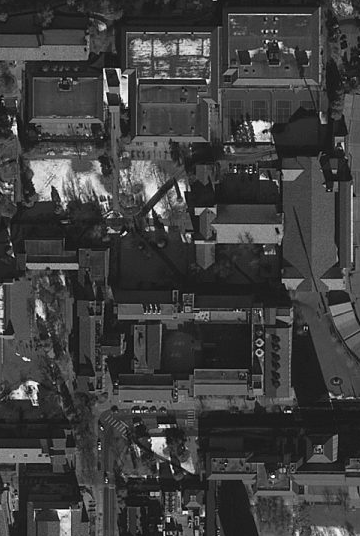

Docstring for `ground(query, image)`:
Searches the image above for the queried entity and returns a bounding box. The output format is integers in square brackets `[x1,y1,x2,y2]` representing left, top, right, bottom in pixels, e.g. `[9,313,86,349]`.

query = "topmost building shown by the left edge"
[0,28,89,60]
